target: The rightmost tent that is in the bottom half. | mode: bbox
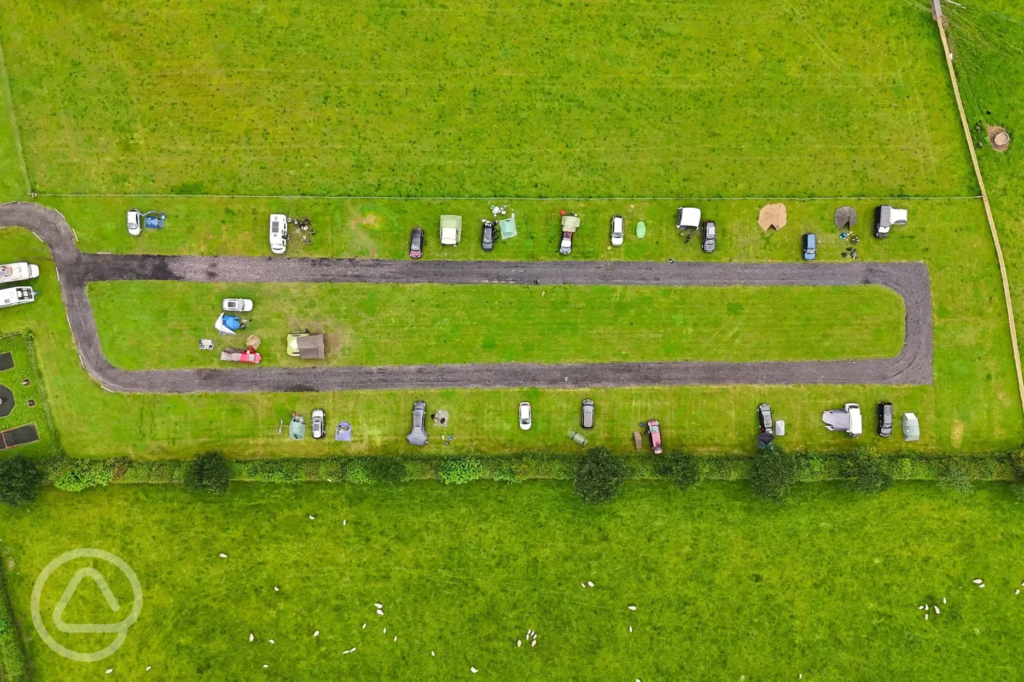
[903,413,920,441]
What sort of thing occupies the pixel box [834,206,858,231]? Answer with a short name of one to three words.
tent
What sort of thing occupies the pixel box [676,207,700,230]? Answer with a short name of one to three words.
gazebo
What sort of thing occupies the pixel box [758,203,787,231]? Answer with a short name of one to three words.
tent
